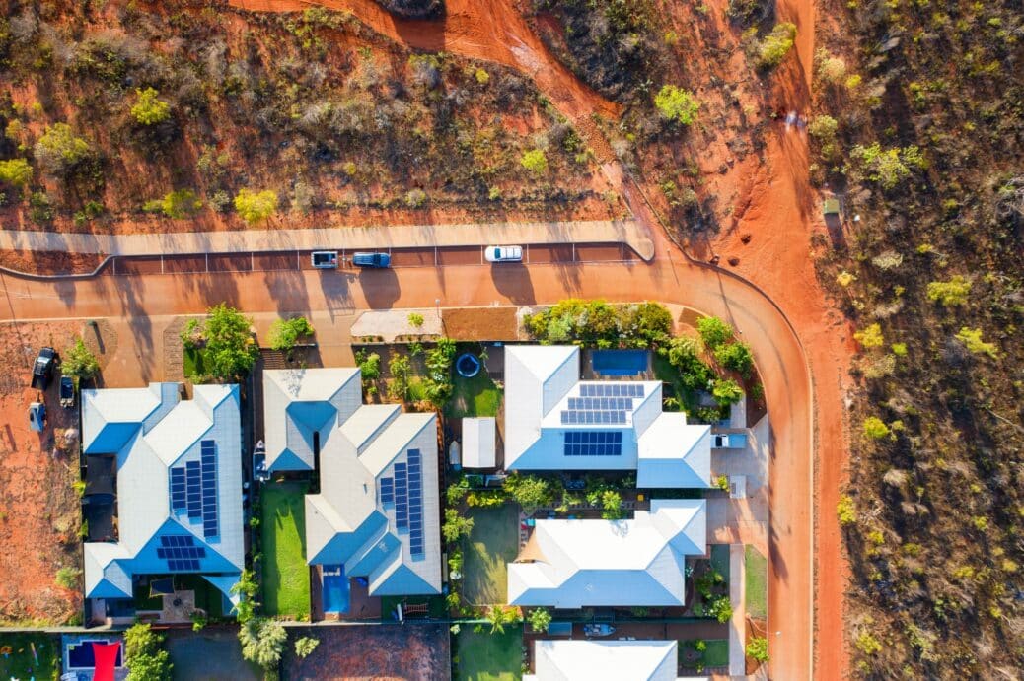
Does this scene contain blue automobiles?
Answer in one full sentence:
Yes, a blue automobile can be made out from above.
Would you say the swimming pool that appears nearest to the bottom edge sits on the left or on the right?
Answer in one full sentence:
You can find the swimming pool that appears nearest to the bottom edge on the left side of the picture.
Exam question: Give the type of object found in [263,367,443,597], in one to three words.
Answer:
house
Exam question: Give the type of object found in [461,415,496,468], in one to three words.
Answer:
shed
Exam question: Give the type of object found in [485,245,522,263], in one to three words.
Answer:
car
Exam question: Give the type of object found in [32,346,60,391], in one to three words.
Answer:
truck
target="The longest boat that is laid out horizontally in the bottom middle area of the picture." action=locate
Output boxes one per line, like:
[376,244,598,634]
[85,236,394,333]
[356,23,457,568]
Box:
[580,625,616,638]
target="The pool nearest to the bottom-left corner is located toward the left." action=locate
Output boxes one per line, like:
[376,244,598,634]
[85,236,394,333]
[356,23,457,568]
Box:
[66,639,125,671]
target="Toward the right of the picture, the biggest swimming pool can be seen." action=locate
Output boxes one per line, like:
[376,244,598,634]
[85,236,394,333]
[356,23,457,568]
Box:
[589,346,651,377]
